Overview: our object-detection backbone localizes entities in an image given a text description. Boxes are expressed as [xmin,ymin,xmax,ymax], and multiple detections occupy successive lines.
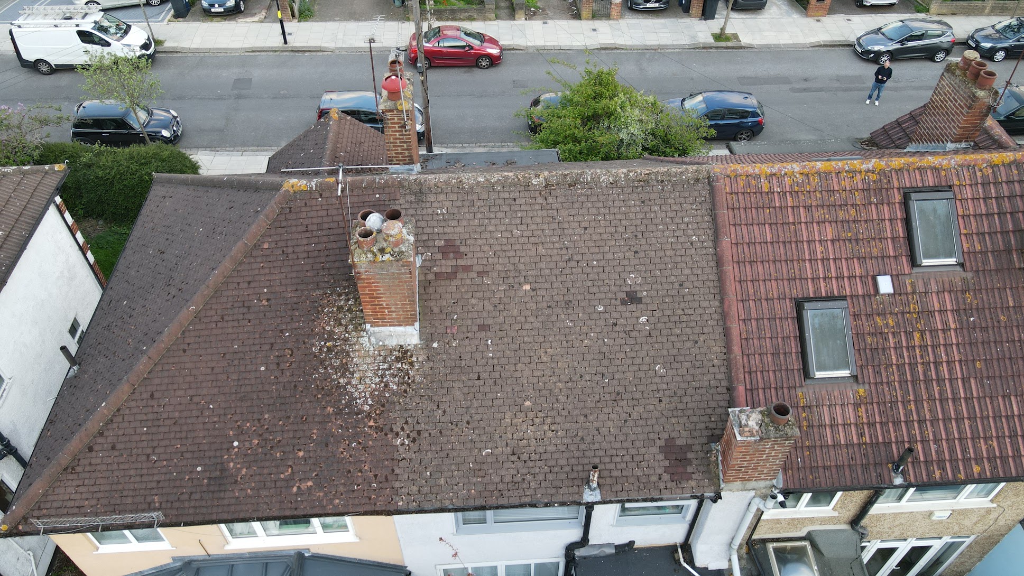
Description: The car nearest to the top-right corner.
[970,14,1024,61]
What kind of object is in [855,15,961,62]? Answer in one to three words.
car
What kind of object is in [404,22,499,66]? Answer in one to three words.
car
